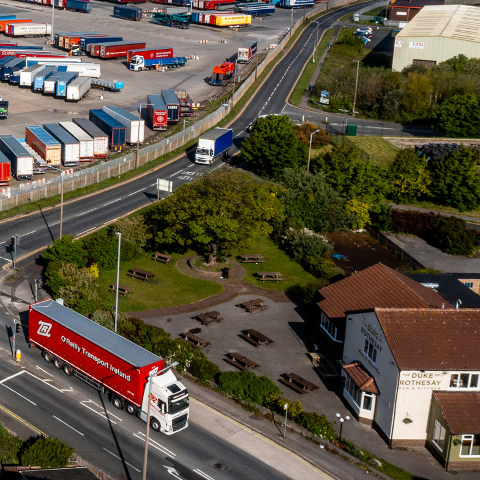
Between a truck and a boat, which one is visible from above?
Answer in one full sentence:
Looking from above, you can make out a truck.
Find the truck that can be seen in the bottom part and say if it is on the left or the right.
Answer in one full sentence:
You can find the truck that can be seen in the bottom part on the left side of the picture.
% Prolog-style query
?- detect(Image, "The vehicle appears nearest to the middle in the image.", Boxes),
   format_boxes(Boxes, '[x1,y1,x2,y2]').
[193,129,230,164]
